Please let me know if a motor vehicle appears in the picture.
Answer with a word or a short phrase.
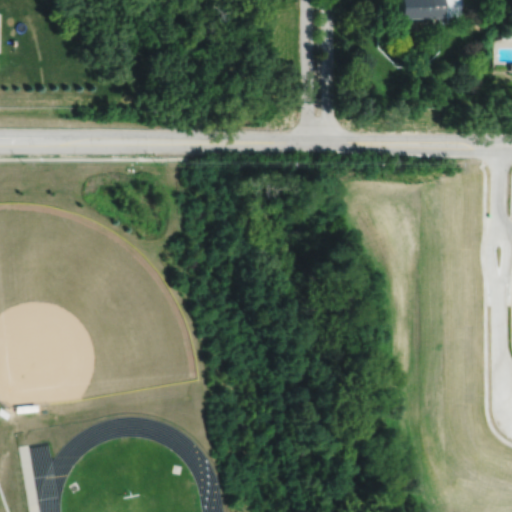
No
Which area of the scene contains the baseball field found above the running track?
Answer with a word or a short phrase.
left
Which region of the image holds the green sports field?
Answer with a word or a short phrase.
bottom left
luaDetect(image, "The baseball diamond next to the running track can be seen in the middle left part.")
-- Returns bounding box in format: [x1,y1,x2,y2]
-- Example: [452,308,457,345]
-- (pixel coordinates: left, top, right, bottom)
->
[0,204,198,405]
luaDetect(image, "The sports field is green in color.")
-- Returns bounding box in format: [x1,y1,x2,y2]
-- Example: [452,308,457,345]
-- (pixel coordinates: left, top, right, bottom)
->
[61,438,204,512]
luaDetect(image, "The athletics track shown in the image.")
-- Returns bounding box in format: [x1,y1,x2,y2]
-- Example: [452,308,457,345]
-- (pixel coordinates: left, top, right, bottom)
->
[31,417,224,512]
